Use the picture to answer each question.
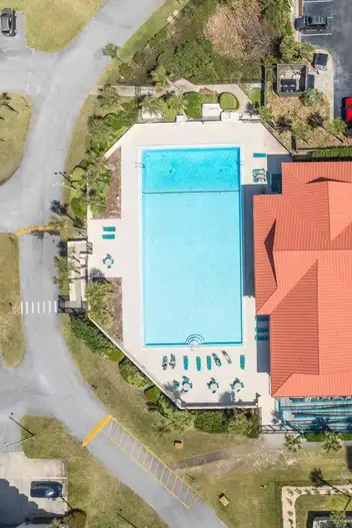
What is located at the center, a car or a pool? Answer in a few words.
pool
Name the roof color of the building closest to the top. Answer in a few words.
red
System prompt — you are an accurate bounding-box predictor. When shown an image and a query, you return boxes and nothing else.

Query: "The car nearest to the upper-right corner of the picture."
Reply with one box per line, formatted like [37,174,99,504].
[295,14,328,32]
